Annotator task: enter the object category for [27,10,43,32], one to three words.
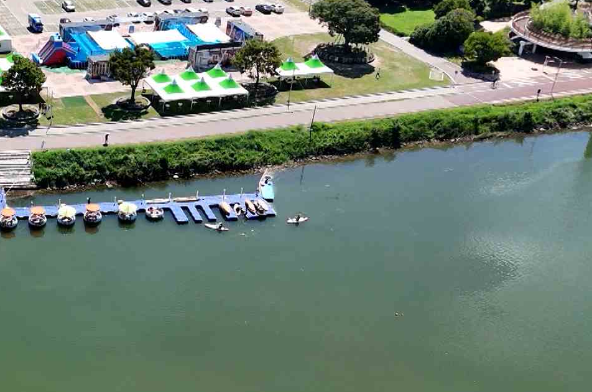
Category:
vehicle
